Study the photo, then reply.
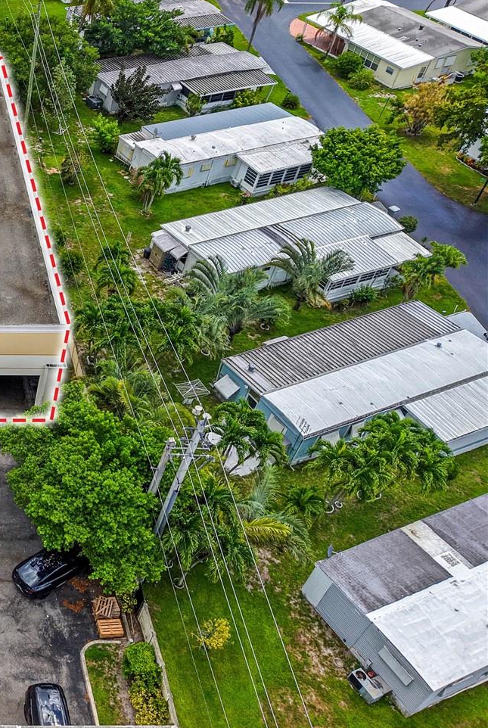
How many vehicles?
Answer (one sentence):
The count of vehicles comes to 2.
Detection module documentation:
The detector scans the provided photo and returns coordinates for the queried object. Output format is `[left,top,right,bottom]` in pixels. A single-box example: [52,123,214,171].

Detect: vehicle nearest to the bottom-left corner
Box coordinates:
[21,682,70,726]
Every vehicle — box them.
[21,682,70,726]
[11,532,87,597]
